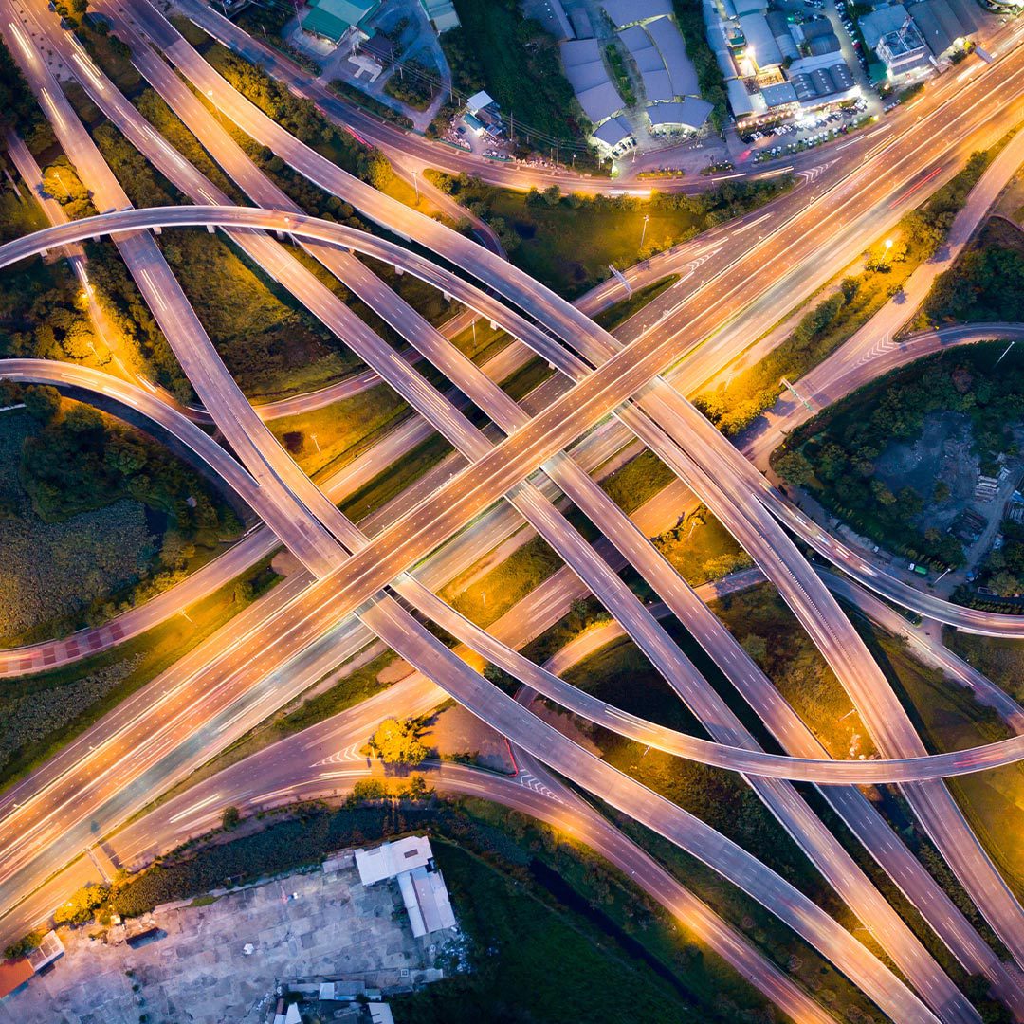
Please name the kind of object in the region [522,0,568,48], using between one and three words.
building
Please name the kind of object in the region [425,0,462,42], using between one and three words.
shed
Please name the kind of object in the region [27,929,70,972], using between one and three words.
shed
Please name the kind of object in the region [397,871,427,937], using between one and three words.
building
